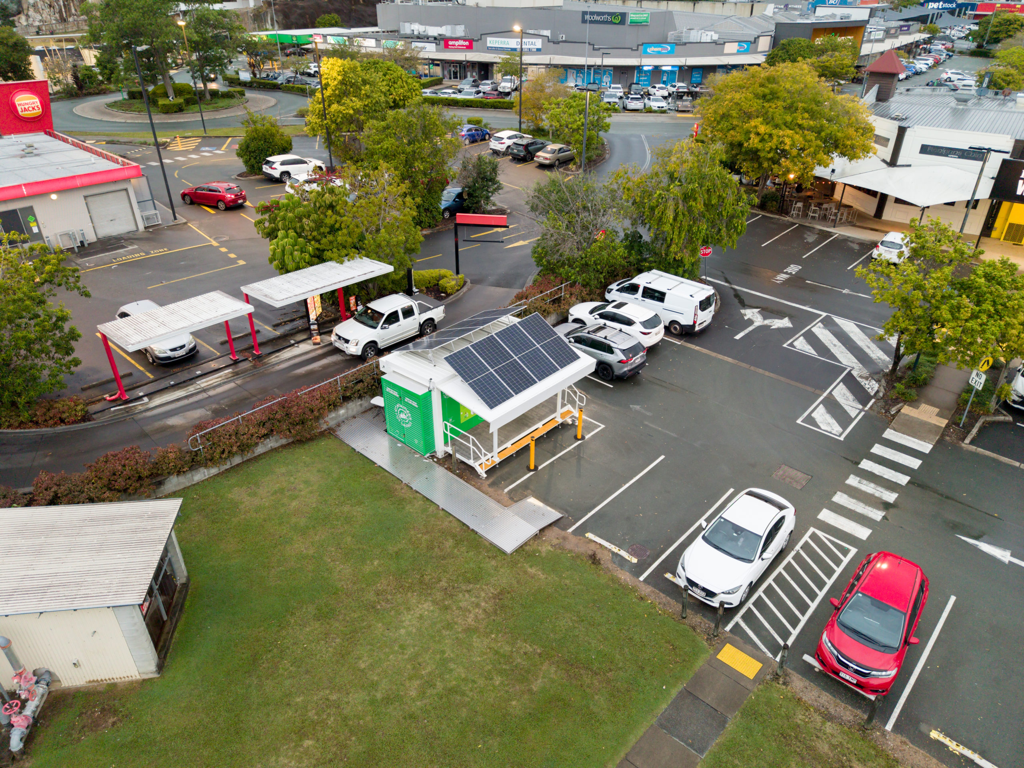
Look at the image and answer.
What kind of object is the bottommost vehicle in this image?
car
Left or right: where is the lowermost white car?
right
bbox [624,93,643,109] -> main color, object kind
white car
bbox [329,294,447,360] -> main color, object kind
white truck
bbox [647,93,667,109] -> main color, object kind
white car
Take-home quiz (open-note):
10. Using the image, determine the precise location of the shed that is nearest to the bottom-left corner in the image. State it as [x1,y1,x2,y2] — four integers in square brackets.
[0,497,201,697]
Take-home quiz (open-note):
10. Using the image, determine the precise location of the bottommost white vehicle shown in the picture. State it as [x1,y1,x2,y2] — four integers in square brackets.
[678,490,804,612]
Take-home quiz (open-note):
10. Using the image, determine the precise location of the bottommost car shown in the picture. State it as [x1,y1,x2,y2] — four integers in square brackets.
[816,557,928,702]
